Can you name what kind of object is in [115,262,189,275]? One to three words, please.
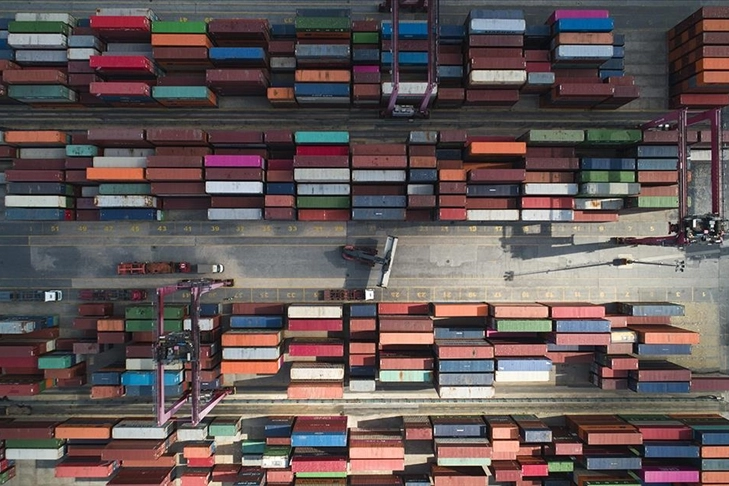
vehicle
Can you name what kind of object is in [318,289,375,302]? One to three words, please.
vehicle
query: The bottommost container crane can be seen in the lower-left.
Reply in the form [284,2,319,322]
[150,280,238,427]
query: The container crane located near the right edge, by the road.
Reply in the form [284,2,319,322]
[614,102,729,250]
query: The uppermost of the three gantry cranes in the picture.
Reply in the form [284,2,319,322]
[380,0,439,115]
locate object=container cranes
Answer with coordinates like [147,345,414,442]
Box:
[380,0,439,115]
[150,280,238,427]
[614,102,729,250]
